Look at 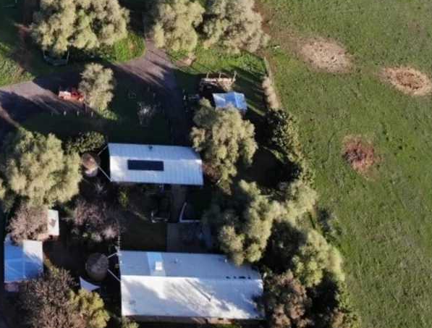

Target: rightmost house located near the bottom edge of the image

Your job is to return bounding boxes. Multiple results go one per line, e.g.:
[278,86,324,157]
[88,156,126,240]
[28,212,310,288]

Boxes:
[112,245,267,327]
